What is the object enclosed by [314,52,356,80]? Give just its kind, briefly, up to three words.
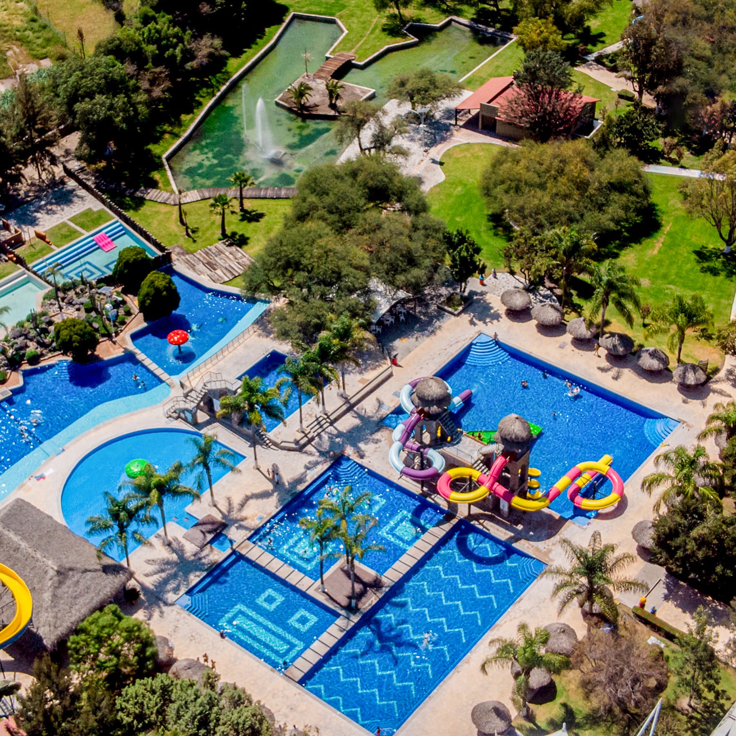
bridge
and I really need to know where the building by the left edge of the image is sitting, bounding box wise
[0,497,133,658]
